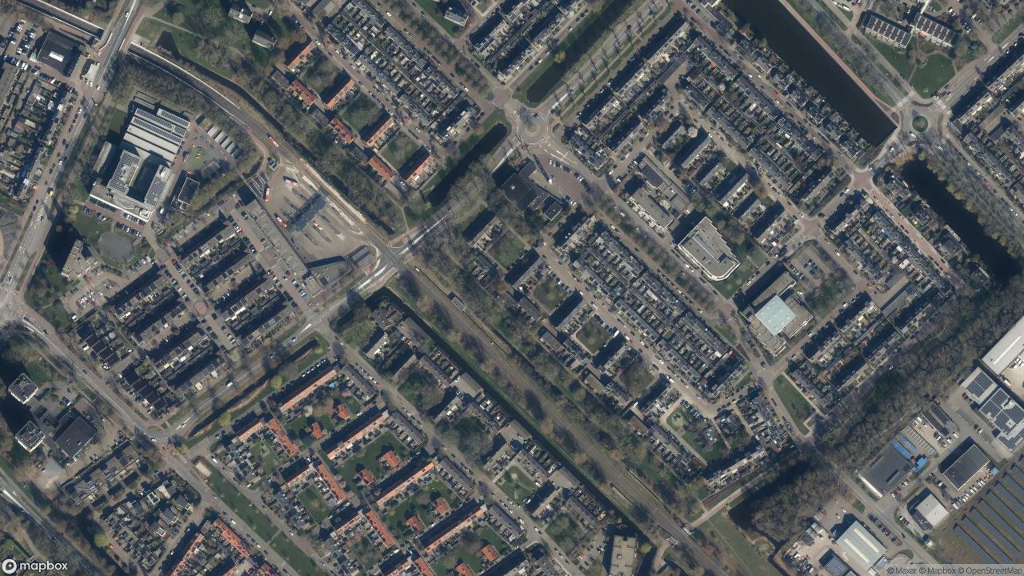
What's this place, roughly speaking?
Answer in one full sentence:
The picture captures a residential area.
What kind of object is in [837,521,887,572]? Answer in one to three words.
building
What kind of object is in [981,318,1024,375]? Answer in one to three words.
building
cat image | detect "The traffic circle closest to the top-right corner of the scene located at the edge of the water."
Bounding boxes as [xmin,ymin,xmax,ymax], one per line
[901,105,939,143]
